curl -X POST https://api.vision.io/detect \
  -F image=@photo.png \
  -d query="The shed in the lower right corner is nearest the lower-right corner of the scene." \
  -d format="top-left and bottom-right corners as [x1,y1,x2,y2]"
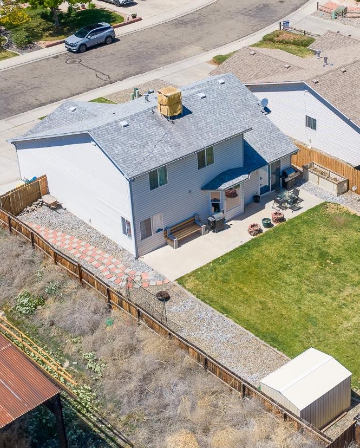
[261,350,350,436]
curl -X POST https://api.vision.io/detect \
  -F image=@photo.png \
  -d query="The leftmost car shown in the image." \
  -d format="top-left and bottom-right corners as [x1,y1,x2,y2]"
[65,24,115,52]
